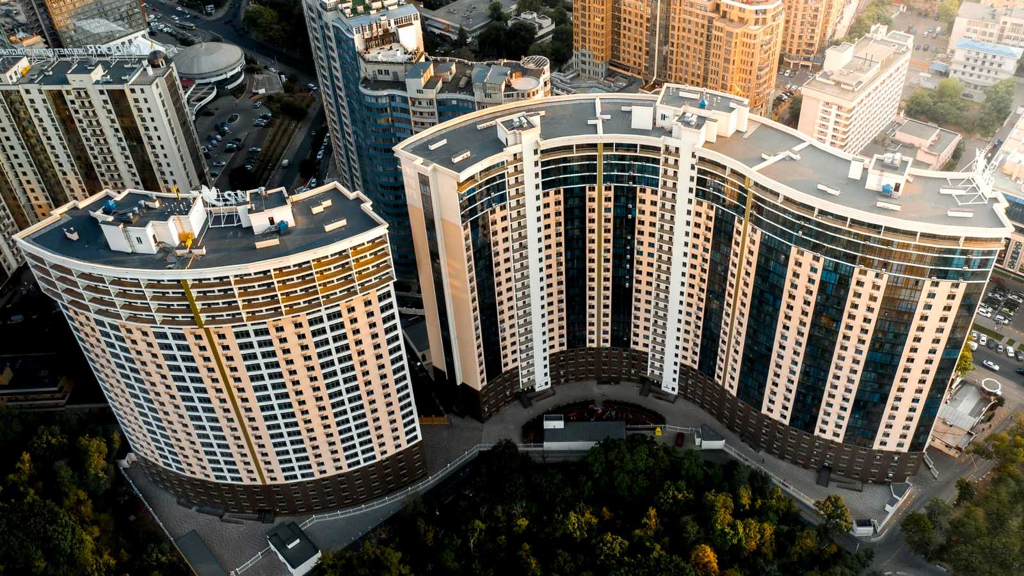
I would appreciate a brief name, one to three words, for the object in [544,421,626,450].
building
